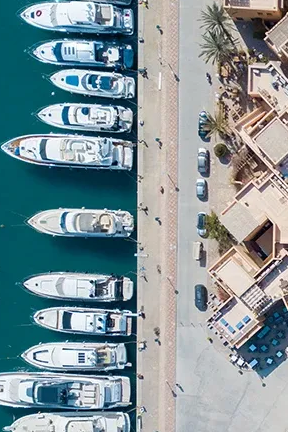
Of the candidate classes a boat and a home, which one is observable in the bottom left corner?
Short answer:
boat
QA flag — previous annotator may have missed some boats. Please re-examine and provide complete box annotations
[36,105,142,139]
[4,403,136,432]
[19,341,133,370]
[34,307,142,337]
[25,42,138,74]
[0,135,138,175]
[0,371,136,407]
[124,44,135,70]
[49,71,147,101]
[27,210,142,240]
[18,5,141,40]
[13,272,142,306]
